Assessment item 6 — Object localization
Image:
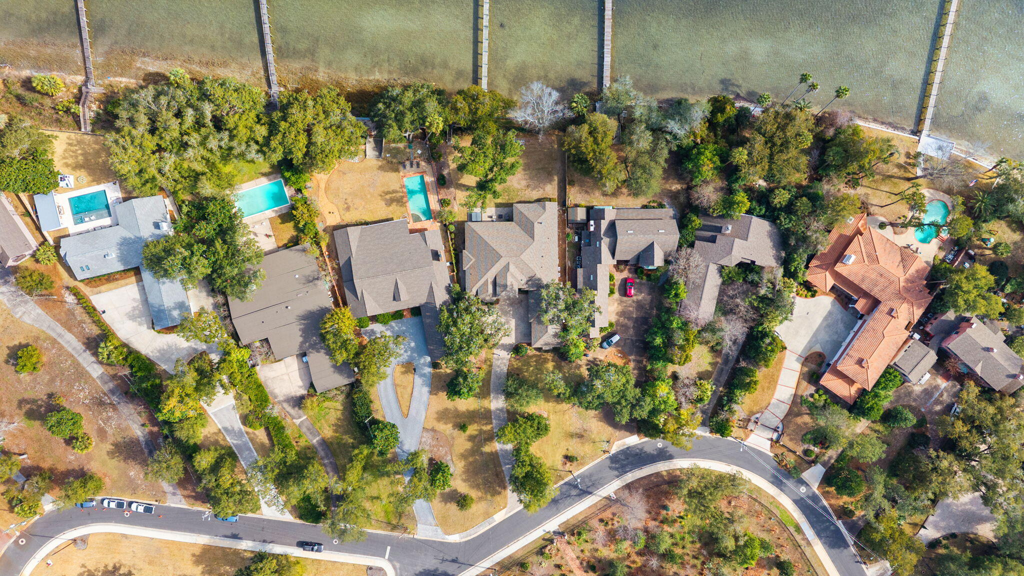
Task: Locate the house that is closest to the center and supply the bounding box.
[463,202,566,350]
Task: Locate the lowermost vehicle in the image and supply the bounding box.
[301,541,324,554]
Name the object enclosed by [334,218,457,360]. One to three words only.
house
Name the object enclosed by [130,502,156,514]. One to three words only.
vehicle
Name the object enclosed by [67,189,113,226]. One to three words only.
swimming pool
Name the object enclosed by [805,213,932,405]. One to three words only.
house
